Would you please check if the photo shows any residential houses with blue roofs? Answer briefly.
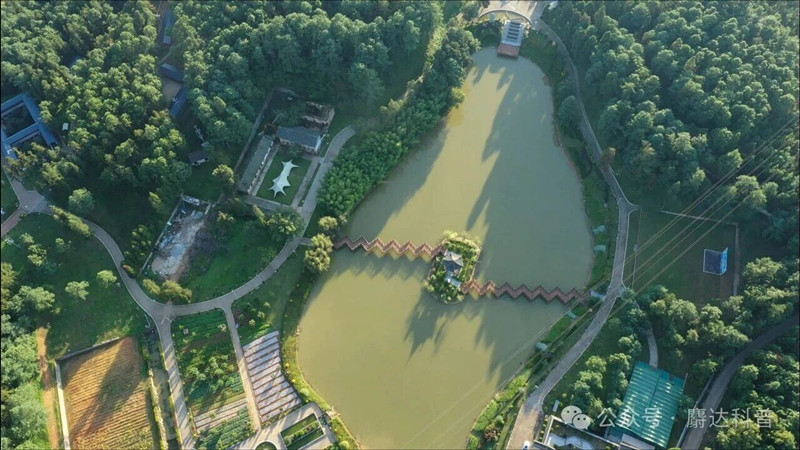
Yes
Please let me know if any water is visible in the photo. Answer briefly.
Yes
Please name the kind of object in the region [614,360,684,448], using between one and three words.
shed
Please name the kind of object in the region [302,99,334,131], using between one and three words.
house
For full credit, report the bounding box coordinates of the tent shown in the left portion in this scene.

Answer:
[266,160,300,203]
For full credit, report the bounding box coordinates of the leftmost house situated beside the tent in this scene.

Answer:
[239,135,274,194]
